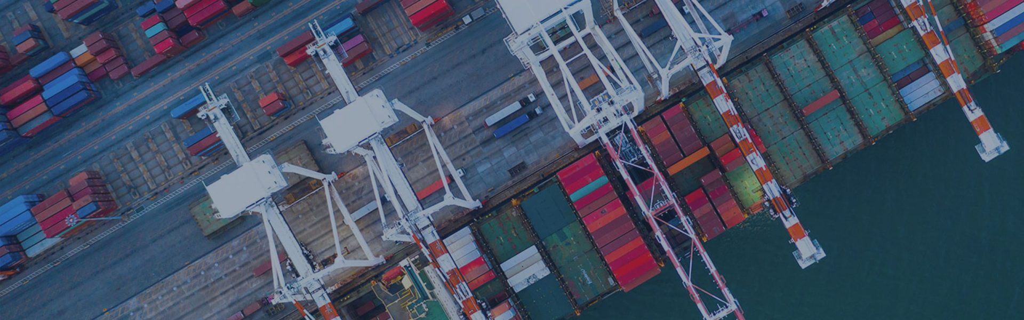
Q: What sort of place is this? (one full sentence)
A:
This image shows a port.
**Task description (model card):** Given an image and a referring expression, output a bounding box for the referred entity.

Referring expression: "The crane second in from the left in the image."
[299,19,498,320]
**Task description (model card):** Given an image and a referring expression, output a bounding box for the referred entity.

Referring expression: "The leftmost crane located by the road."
[190,82,398,320]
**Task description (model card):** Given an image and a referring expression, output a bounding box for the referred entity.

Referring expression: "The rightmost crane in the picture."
[894,0,1010,165]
